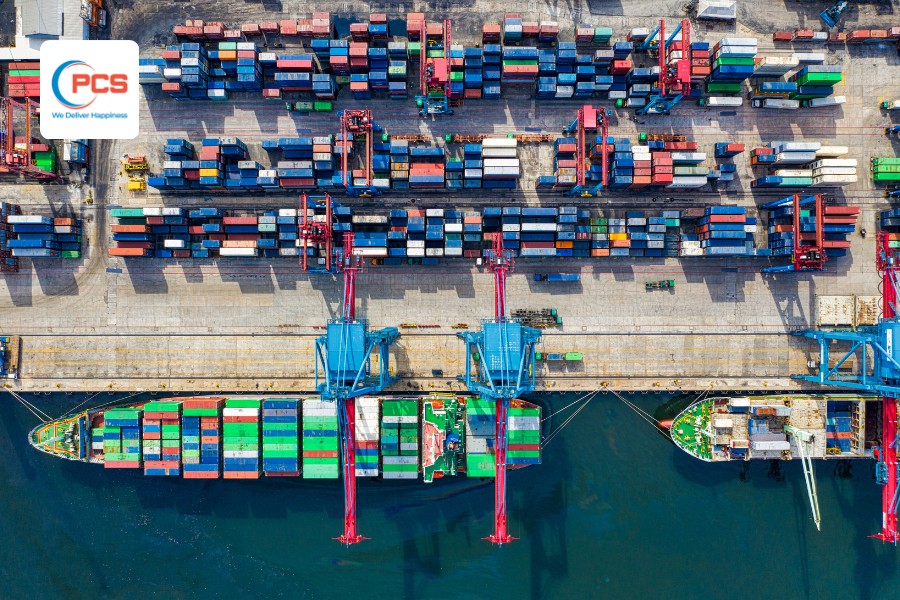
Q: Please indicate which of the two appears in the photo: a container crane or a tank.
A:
container crane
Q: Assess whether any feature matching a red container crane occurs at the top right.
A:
Yes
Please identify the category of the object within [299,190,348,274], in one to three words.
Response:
container crane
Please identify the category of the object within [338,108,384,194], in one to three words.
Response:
container crane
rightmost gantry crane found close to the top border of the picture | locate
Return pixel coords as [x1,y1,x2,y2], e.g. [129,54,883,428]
[635,18,693,113]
